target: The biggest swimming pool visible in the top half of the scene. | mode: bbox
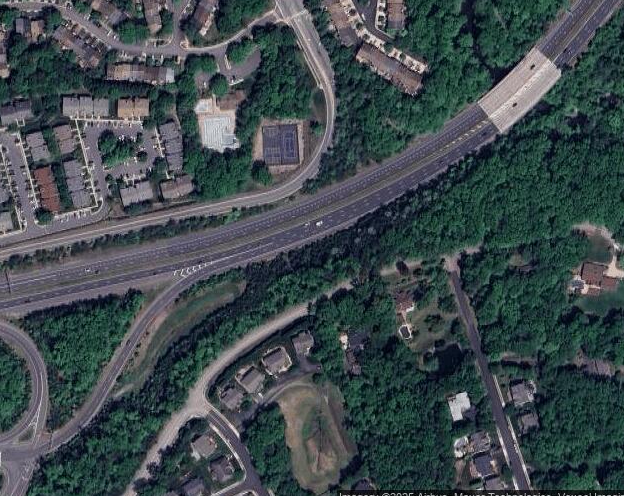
[196,99,240,151]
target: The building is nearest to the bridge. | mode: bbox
[361,43,425,92]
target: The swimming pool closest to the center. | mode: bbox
[398,323,412,340]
